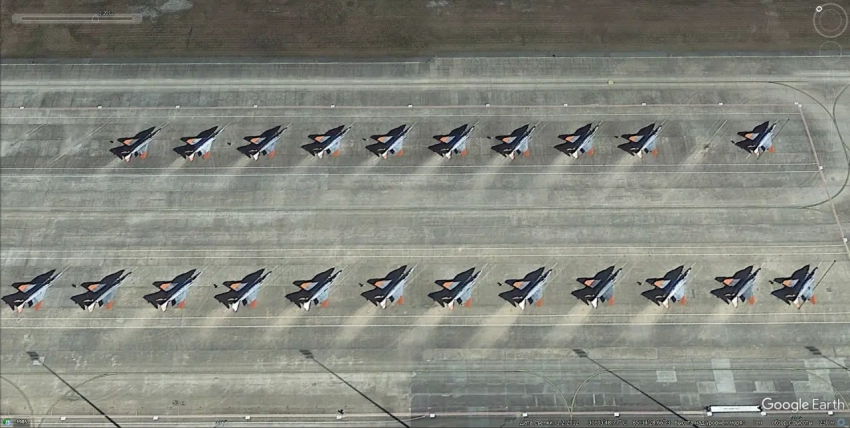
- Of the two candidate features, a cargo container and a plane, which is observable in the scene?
plane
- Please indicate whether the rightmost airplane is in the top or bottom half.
bottom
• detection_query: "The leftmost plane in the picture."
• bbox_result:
[9,272,59,315]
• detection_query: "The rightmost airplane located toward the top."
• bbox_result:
[743,123,778,158]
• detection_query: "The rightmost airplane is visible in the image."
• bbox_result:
[784,267,819,309]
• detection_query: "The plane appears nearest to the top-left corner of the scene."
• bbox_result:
[115,128,159,163]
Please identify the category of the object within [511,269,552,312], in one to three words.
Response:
airplane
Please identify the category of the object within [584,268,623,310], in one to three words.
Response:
airplane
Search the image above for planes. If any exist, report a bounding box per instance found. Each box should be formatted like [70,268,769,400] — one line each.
[9,272,59,315]
[370,268,413,310]
[498,124,536,161]
[436,125,474,161]
[245,126,286,163]
[310,127,349,163]
[628,124,662,160]
[784,267,819,309]
[296,270,341,313]
[654,268,692,310]
[743,123,778,158]
[584,268,623,310]
[154,272,200,314]
[511,269,552,312]
[725,268,763,310]
[373,125,412,162]
[81,271,129,315]
[115,128,159,163]
[225,270,271,314]
[180,128,222,163]
[441,270,481,313]
[563,124,598,160]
